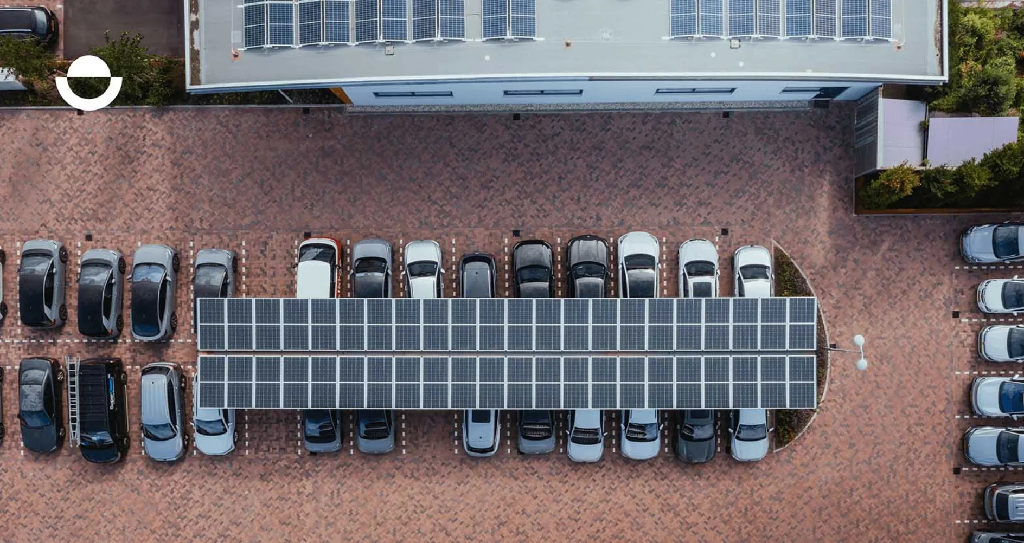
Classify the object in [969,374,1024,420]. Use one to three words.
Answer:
car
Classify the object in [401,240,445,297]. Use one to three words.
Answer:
car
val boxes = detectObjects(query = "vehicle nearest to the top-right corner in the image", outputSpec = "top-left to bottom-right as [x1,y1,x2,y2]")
[958,219,1024,265]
